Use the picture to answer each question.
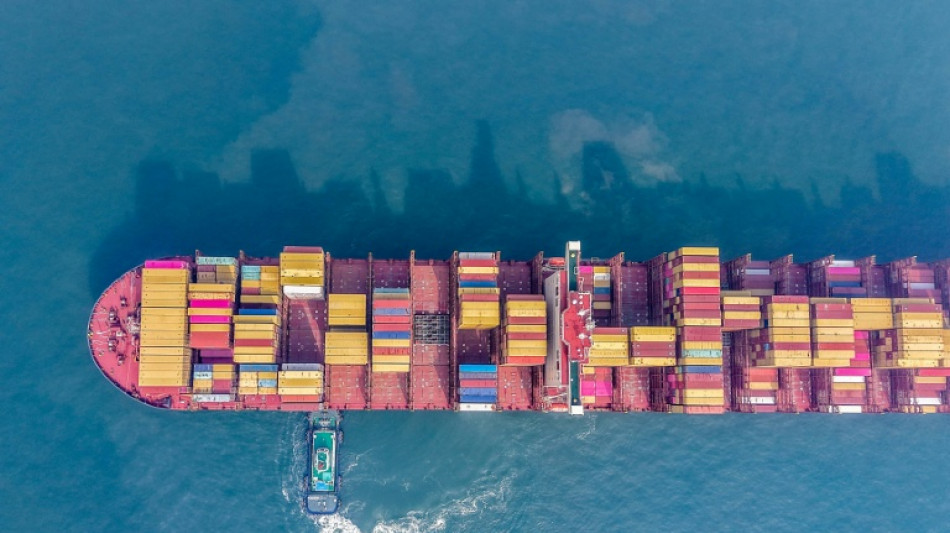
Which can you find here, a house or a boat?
boat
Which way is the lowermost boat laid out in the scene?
vertically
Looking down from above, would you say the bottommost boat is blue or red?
blue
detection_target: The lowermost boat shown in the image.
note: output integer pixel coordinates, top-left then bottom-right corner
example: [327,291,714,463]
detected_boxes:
[303,411,344,515]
